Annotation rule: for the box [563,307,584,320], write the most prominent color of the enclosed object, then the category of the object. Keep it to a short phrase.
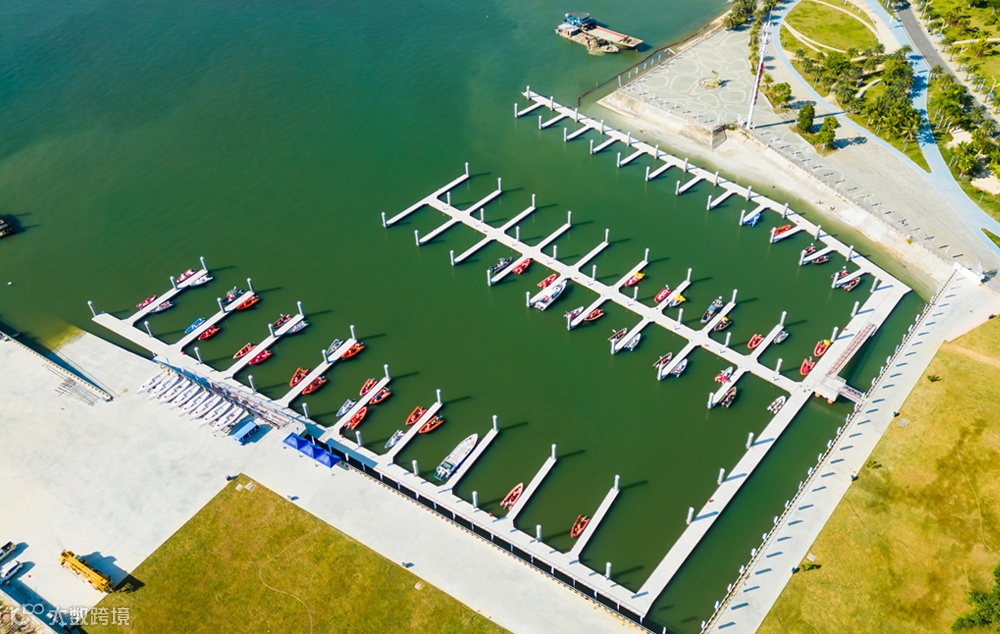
white boat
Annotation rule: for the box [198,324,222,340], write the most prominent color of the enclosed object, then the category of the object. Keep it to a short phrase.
red boat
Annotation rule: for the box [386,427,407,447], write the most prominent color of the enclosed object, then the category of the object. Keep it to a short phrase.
white boat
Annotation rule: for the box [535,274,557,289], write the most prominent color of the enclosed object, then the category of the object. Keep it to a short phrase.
red boat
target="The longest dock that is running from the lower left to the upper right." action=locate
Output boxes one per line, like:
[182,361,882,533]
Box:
[638,277,912,617]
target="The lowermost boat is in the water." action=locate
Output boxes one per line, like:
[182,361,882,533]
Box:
[571,515,590,537]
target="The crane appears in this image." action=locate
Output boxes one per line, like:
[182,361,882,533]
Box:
[55,550,114,597]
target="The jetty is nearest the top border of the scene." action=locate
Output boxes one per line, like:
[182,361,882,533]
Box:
[515,92,893,289]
